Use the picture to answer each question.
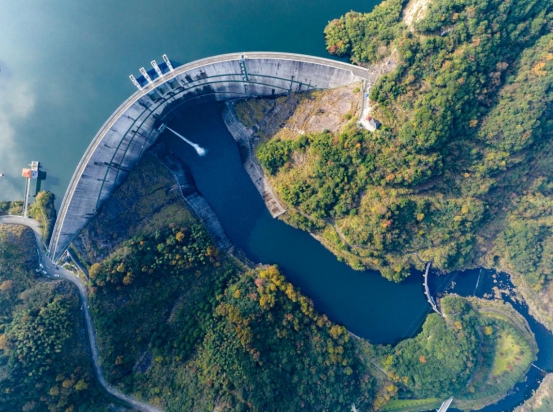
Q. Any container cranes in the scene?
No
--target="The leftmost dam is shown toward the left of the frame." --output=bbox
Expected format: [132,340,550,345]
[46,51,375,262]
